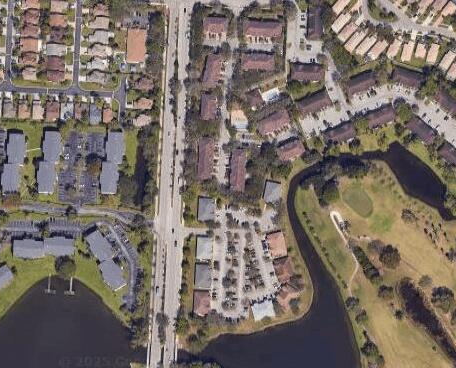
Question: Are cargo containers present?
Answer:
No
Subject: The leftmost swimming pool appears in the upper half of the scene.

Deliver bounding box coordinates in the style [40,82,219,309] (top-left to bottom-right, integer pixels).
[262,86,281,102]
